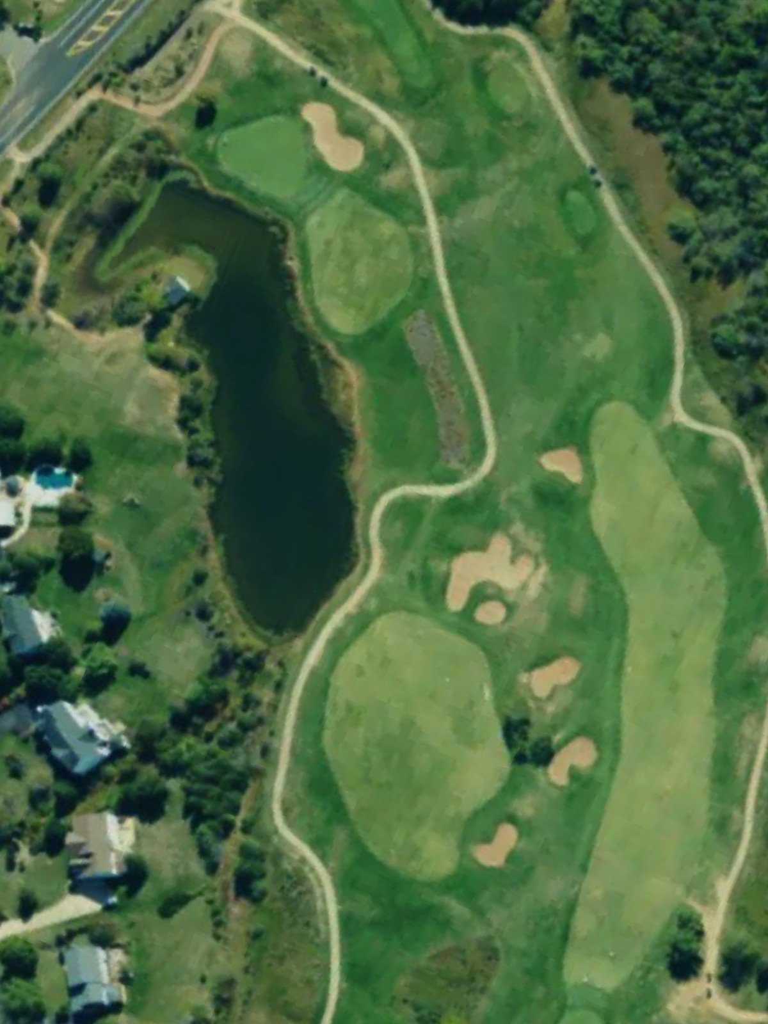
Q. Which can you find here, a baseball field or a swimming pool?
swimming pool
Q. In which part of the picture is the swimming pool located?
left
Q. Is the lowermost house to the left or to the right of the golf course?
left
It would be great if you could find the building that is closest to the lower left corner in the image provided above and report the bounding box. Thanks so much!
[66,945,126,1015]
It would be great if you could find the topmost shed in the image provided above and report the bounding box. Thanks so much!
[164,279,193,307]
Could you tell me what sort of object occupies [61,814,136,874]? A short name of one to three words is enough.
house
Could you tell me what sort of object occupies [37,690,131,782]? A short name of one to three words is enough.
house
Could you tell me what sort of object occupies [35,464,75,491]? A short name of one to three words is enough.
swimming pool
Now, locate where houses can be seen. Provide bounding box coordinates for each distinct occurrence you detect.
[61,814,136,874]
[66,945,126,1015]
[4,595,57,651]
[37,690,131,782]
[0,499,20,526]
